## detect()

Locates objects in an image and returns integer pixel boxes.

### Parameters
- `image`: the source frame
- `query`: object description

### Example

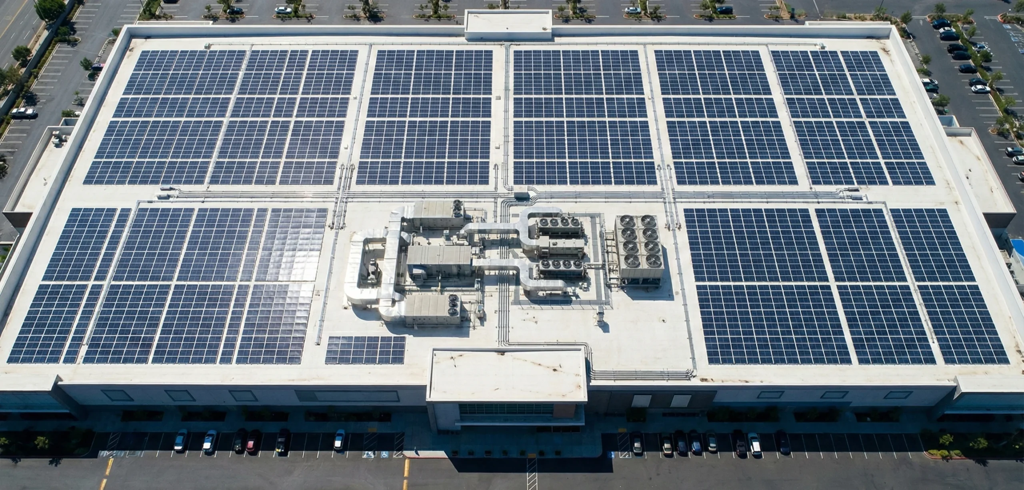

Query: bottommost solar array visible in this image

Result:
[325,336,406,365]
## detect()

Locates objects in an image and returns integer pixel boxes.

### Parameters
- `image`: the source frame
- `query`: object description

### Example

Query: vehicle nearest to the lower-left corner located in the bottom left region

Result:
[173,429,189,453]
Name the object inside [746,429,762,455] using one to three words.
car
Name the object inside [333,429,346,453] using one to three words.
vehicle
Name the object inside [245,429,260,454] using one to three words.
car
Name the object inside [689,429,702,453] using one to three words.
vehicle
